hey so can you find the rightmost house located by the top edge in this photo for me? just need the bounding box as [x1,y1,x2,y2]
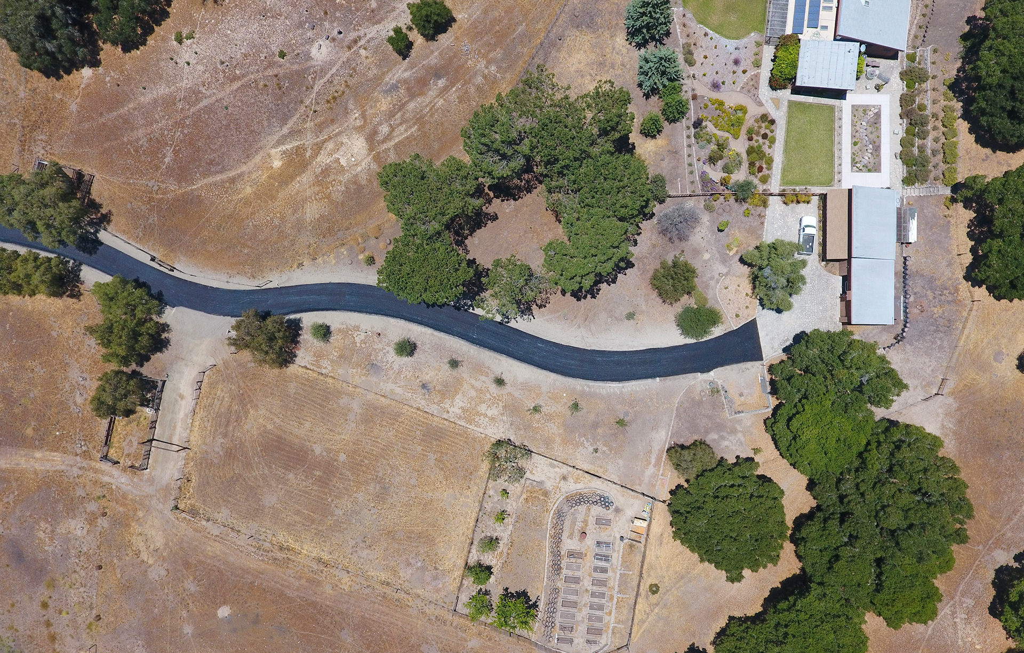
[835,0,912,57]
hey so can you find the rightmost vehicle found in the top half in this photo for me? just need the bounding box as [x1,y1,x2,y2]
[797,215,819,256]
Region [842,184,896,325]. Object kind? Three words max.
building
